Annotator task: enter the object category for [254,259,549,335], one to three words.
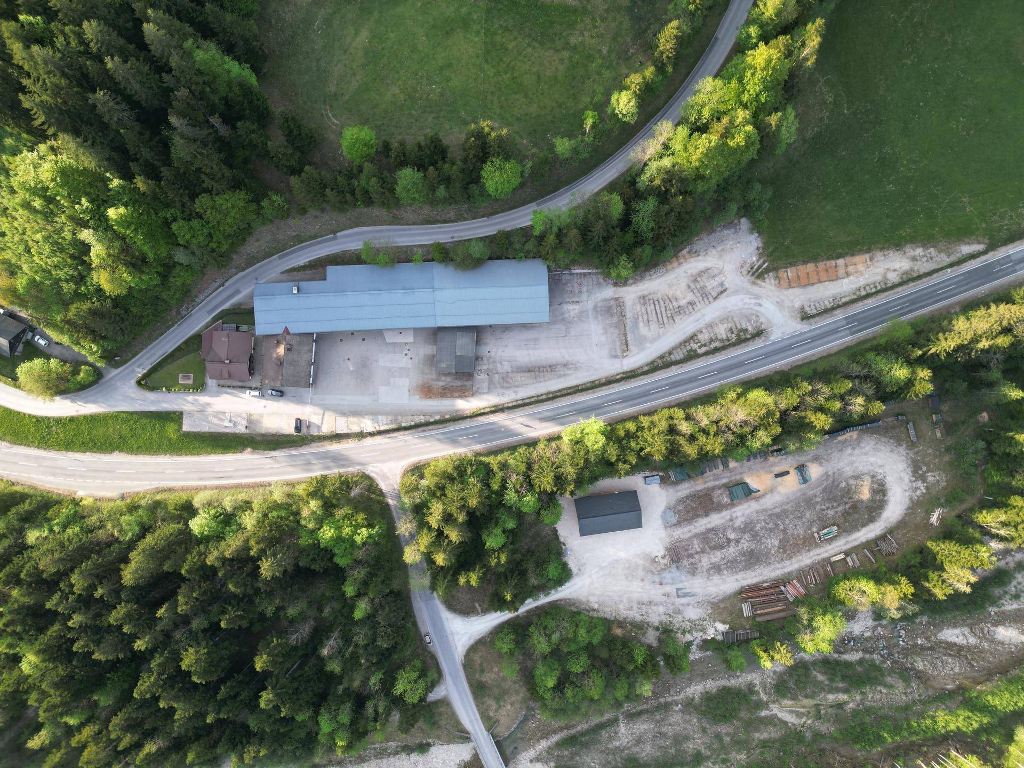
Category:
building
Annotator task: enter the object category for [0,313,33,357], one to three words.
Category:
house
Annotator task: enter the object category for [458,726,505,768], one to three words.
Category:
bridge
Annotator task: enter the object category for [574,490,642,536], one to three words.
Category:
barn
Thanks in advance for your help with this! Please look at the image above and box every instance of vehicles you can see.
[293,418,301,433]
[423,632,433,646]
[33,335,48,346]
[268,389,282,396]
[245,390,261,396]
